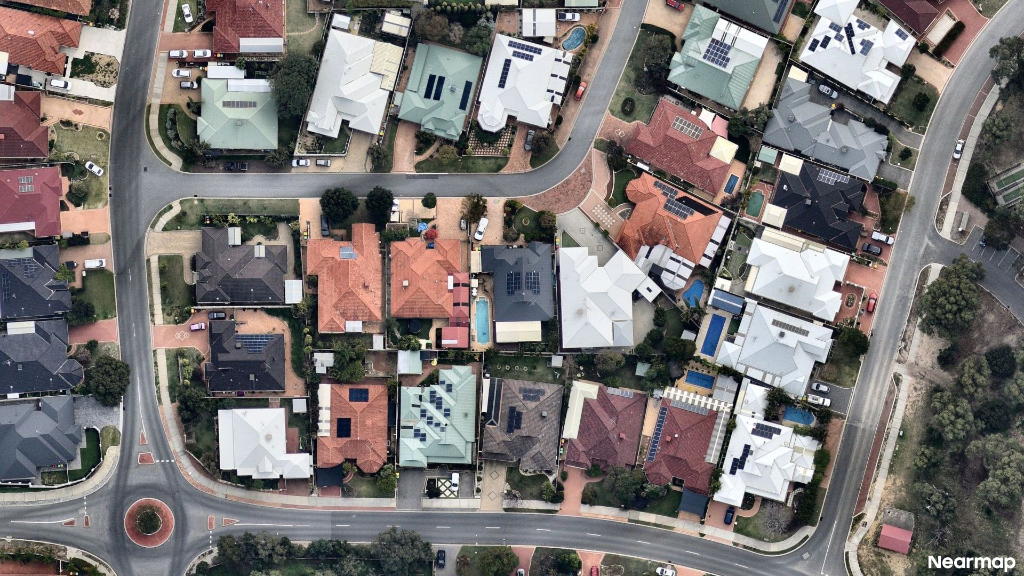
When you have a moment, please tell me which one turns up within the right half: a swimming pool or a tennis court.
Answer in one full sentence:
There is a swimming pool within the right half.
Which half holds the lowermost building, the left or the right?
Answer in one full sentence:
The lowermost building is on the right side of the image.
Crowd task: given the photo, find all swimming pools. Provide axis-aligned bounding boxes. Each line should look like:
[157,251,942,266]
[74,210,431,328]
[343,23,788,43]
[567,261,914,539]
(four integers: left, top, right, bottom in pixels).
[475,295,491,345]
[561,27,586,52]
[683,369,716,391]
[724,174,740,196]
[681,278,706,309]
[782,405,815,426]
[744,188,766,219]
[700,313,727,358]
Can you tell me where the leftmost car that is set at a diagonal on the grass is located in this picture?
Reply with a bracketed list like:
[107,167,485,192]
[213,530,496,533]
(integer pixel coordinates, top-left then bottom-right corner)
[85,161,103,176]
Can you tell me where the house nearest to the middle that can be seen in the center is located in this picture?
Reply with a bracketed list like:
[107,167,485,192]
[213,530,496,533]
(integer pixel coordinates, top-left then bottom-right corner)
[471,242,554,342]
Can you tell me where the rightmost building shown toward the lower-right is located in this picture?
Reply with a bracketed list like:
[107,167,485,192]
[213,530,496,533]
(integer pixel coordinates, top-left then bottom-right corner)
[877,523,914,555]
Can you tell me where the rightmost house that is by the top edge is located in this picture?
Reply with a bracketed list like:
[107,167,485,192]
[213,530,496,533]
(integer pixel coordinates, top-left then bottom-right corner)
[876,0,939,36]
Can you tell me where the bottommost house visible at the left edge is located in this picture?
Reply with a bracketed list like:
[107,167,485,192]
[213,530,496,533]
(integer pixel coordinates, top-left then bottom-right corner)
[0,396,82,481]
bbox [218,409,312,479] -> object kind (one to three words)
house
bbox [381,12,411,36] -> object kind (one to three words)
shed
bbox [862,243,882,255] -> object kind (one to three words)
vehicle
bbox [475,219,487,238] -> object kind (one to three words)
vehicle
